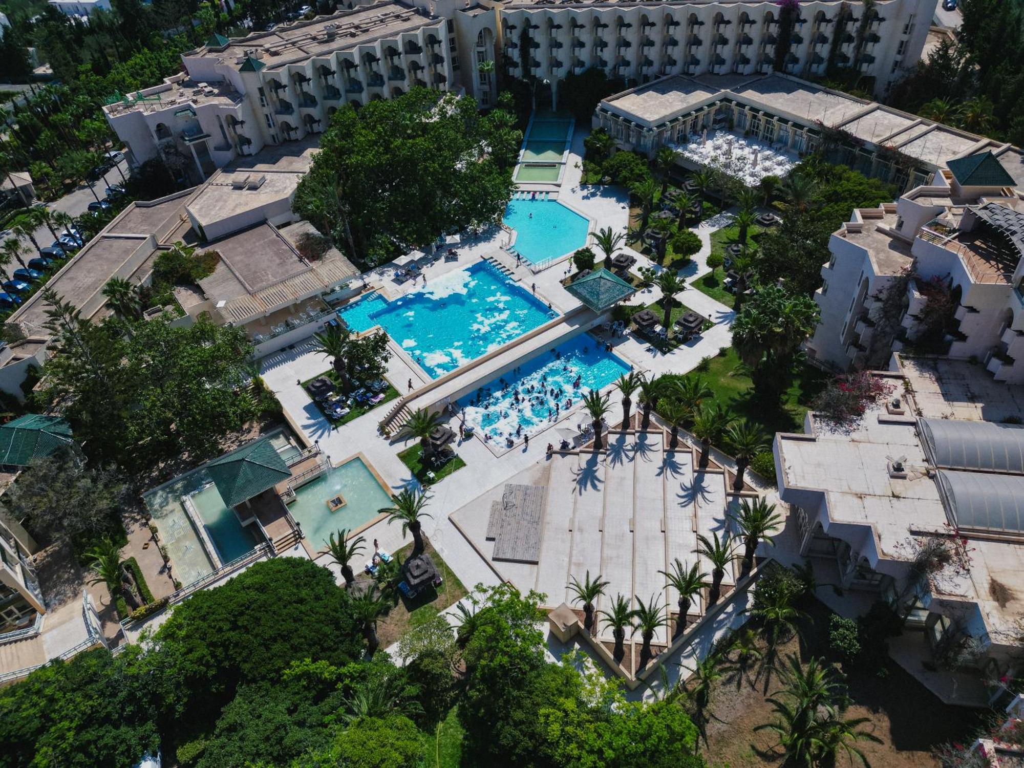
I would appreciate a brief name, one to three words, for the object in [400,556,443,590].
umbrella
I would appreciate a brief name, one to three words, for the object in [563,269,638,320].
building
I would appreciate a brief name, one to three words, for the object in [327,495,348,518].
fountain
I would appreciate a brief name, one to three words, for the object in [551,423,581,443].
umbrella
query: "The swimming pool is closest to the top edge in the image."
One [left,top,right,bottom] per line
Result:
[502,192,589,264]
